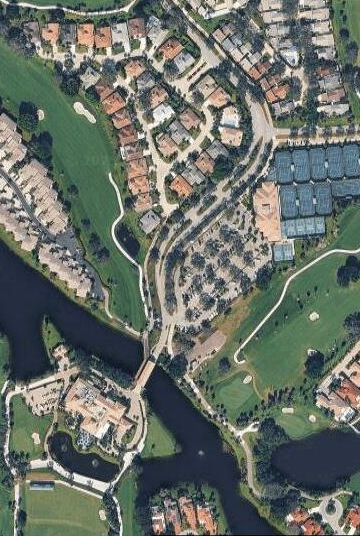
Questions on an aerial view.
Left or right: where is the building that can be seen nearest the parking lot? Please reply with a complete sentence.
You can find the building that can be seen nearest the parking lot on the right side of the picture.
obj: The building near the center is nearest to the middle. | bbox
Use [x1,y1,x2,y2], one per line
[138,210,163,234]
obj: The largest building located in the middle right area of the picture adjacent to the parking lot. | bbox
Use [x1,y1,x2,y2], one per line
[255,181,281,241]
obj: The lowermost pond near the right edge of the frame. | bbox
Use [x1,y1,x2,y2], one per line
[274,431,360,489]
